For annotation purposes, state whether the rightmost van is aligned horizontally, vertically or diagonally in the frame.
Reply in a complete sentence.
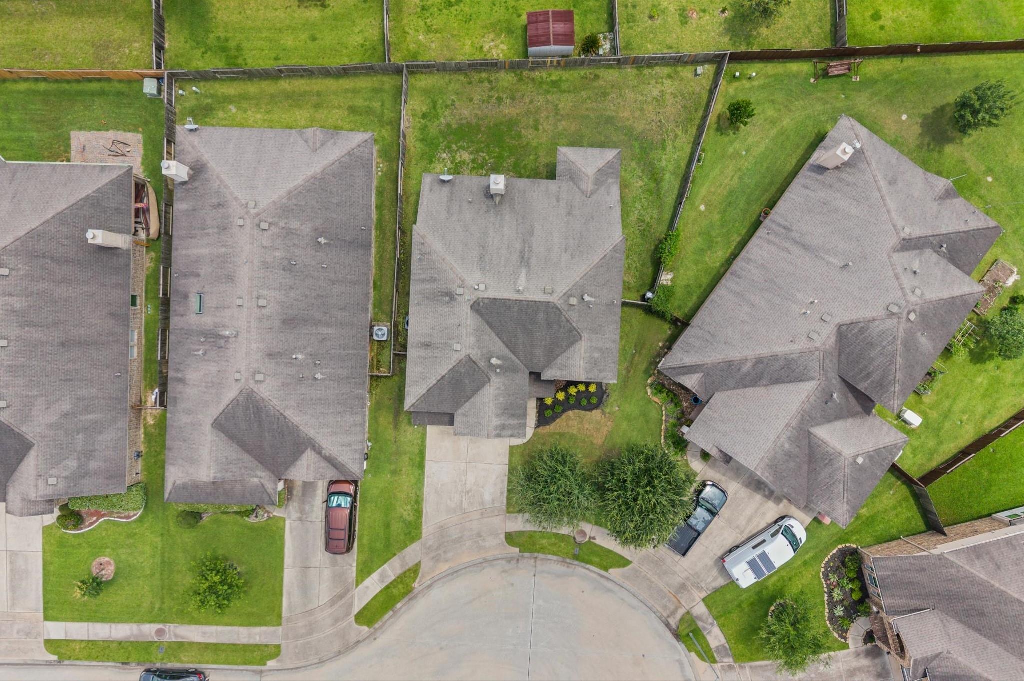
The rightmost van is laid out diagonally.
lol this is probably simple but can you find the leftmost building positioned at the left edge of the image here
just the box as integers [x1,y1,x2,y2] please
[0,155,147,518]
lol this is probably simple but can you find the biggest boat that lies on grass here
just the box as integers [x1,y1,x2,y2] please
[145,181,160,240]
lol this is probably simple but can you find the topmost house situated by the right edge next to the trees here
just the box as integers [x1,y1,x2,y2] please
[657,115,1003,529]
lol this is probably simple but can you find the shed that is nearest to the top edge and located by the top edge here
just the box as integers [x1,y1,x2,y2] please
[522,7,575,58]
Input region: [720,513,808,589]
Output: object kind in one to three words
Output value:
van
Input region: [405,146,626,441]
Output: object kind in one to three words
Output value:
house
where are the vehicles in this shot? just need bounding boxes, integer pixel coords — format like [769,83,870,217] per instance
[141,667,206,681]
[320,480,358,554]
[660,478,727,560]
[720,513,808,589]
